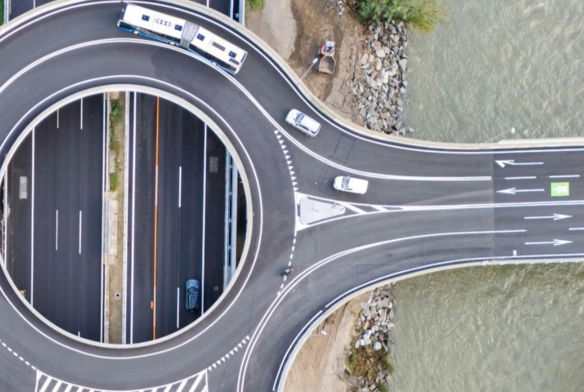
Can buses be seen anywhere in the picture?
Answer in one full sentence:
Yes, this view includes a bus.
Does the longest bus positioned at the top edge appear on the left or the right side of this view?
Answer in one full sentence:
The longest bus positioned at the top edge sits on the left side.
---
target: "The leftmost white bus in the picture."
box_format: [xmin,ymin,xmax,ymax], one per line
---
[120,3,246,75]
